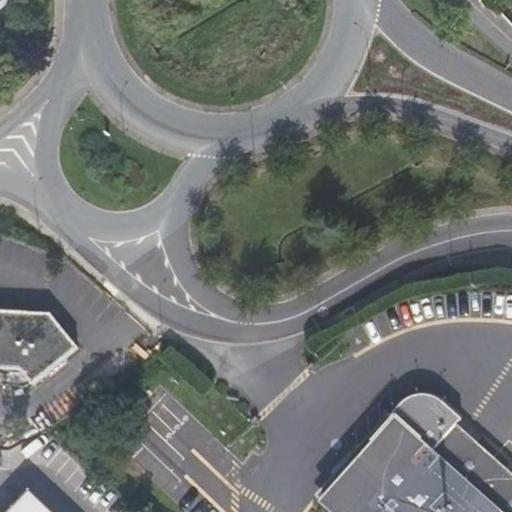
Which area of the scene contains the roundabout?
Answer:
top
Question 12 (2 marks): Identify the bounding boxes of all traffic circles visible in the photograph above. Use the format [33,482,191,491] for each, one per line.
[70,0,374,152]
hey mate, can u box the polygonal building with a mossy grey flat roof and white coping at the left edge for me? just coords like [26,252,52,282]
[0,310,78,385]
